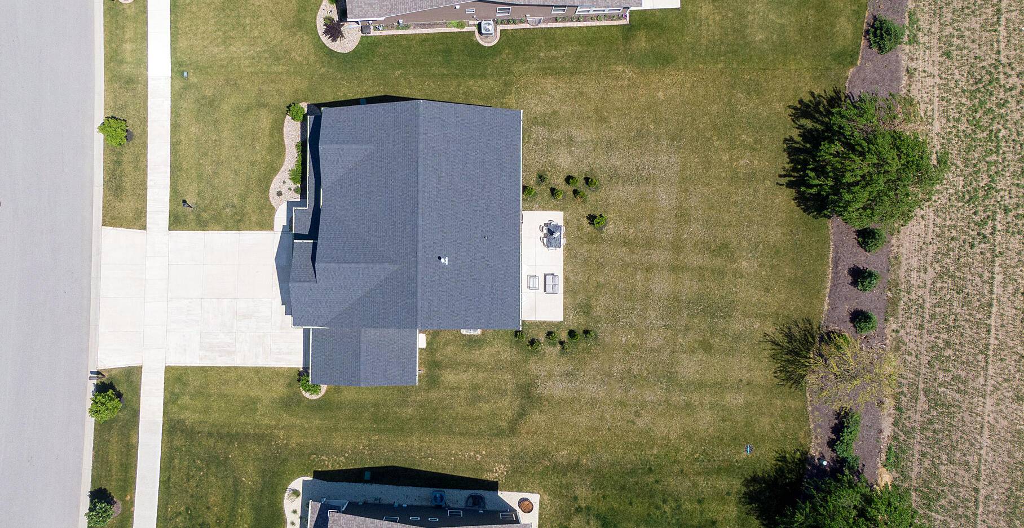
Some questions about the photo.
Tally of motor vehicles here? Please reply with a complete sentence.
No motor vehicles are visible.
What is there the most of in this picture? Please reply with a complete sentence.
Most of the picture is covered by grass.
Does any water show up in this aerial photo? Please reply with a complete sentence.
No, there is no water in the image.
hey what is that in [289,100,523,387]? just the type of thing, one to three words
house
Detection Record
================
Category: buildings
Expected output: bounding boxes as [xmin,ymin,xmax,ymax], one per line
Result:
[306,499,535,528]
[289,100,523,387]
[346,0,639,25]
